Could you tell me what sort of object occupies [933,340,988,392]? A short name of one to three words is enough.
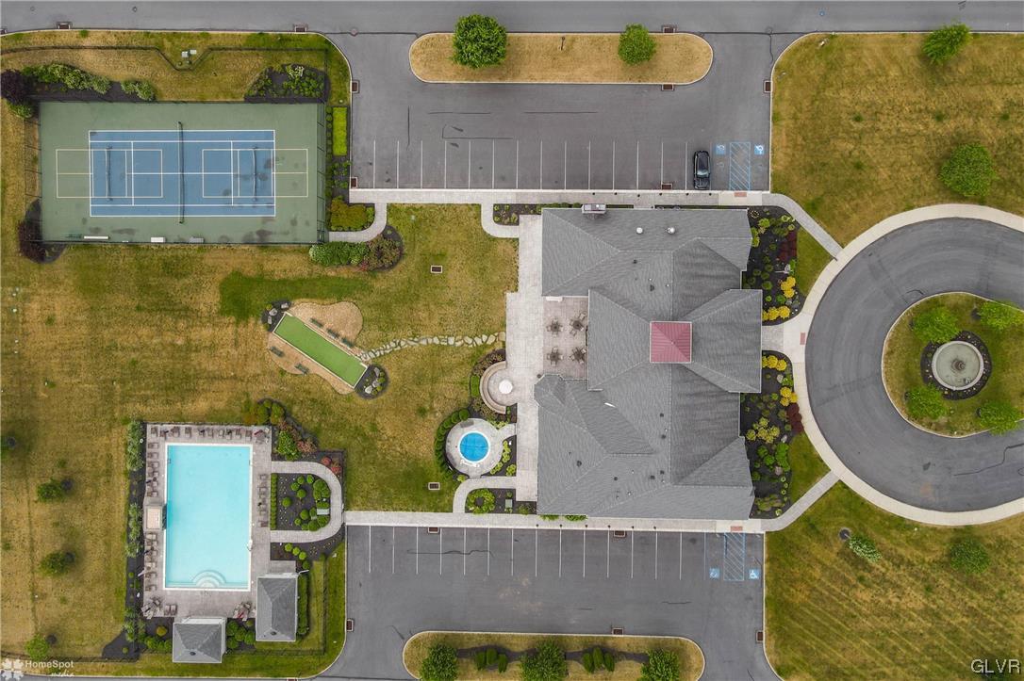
fountain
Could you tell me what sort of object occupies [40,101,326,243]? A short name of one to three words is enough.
tennis court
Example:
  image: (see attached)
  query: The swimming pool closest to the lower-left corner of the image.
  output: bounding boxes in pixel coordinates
[160,444,253,591]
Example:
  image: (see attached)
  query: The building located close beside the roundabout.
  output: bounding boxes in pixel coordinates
[534,205,761,520]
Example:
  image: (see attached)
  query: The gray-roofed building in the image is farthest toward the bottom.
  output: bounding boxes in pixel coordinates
[172,618,227,664]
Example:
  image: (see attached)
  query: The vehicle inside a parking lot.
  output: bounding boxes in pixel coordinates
[692,152,711,189]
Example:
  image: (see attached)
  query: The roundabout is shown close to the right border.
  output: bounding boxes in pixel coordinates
[805,217,1024,512]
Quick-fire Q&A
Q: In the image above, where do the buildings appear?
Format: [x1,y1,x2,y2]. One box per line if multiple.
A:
[172,618,227,664]
[534,205,761,520]
[255,573,300,642]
